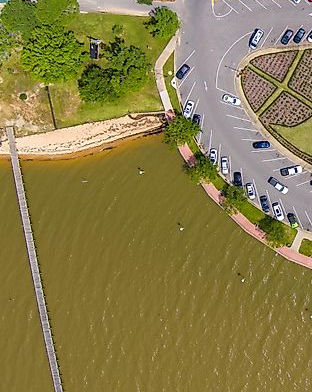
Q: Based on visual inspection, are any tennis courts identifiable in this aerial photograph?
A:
No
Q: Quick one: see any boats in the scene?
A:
No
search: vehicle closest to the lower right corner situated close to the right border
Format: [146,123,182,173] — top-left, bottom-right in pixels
[286,211,300,229]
